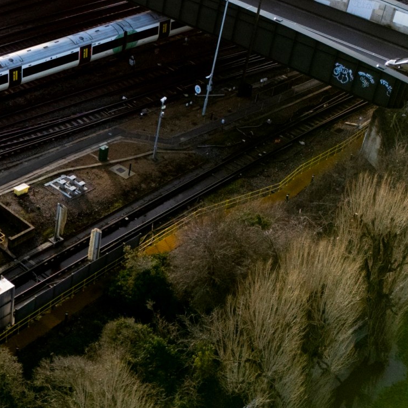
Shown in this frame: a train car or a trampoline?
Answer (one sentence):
This aerial view contains a train car.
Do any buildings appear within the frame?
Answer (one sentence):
No, the picture doesn't show any building.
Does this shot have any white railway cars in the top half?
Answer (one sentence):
No, no white railway car can be made out in the top half.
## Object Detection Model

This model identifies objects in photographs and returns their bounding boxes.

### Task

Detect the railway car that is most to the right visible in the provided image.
[111,9,199,51]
